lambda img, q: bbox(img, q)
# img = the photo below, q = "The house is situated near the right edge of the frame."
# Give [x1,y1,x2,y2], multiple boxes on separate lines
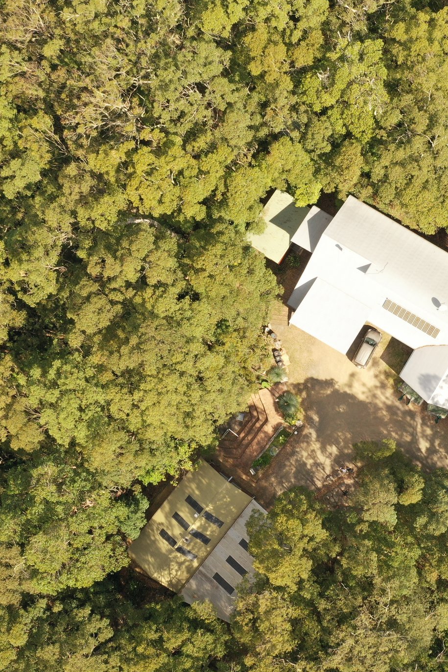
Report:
[287,195,448,408]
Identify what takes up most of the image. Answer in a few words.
trees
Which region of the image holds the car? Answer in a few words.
right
